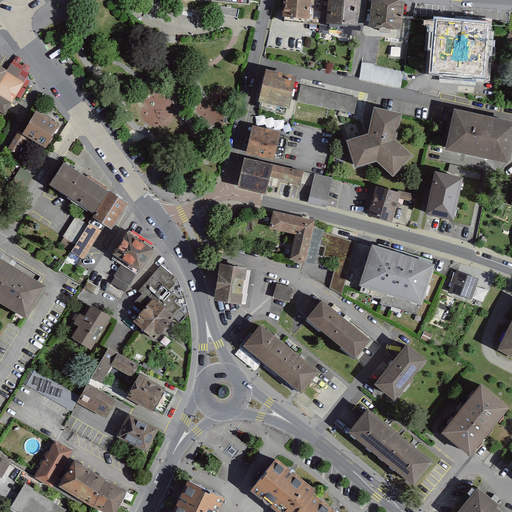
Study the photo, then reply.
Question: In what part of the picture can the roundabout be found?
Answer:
bottom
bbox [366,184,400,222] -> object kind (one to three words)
house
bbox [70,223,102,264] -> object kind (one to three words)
house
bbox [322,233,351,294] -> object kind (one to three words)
building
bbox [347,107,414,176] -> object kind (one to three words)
building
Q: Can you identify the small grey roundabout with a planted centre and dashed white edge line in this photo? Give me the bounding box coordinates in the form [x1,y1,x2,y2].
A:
[192,362,252,422]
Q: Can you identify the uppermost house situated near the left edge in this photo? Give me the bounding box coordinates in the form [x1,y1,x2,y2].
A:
[0,56,30,114]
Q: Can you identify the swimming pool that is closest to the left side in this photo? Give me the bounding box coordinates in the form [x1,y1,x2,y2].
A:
[24,438,40,454]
